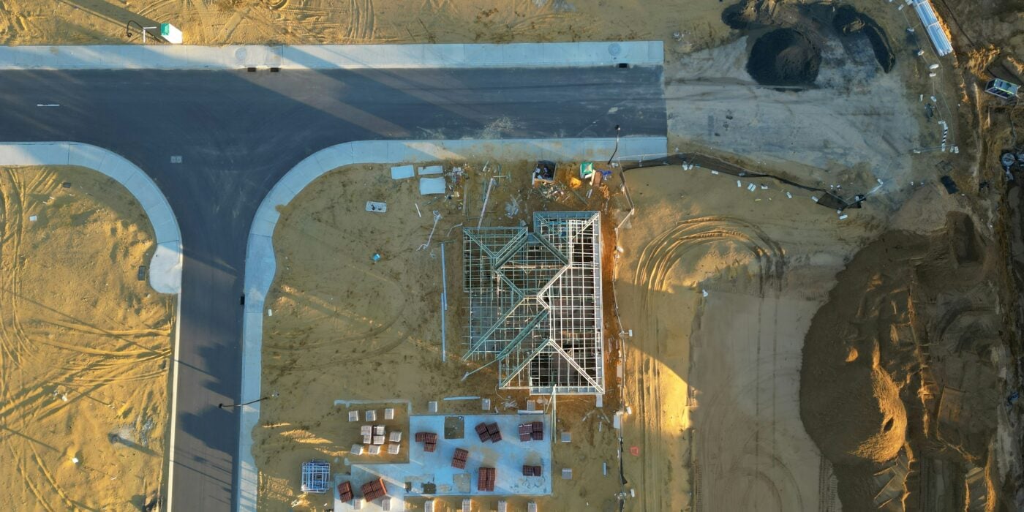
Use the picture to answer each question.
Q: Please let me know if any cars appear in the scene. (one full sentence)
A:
No, there isn't any car down there.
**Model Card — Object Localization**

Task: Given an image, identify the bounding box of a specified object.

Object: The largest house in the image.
[462,211,604,393]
